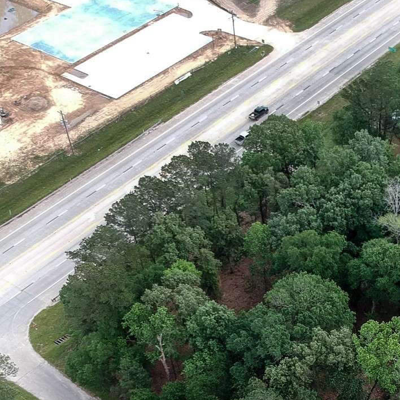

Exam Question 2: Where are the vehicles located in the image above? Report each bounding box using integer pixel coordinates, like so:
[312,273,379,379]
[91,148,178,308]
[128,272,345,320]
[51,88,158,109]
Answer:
[247,106,269,120]
[234,130,254,145]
